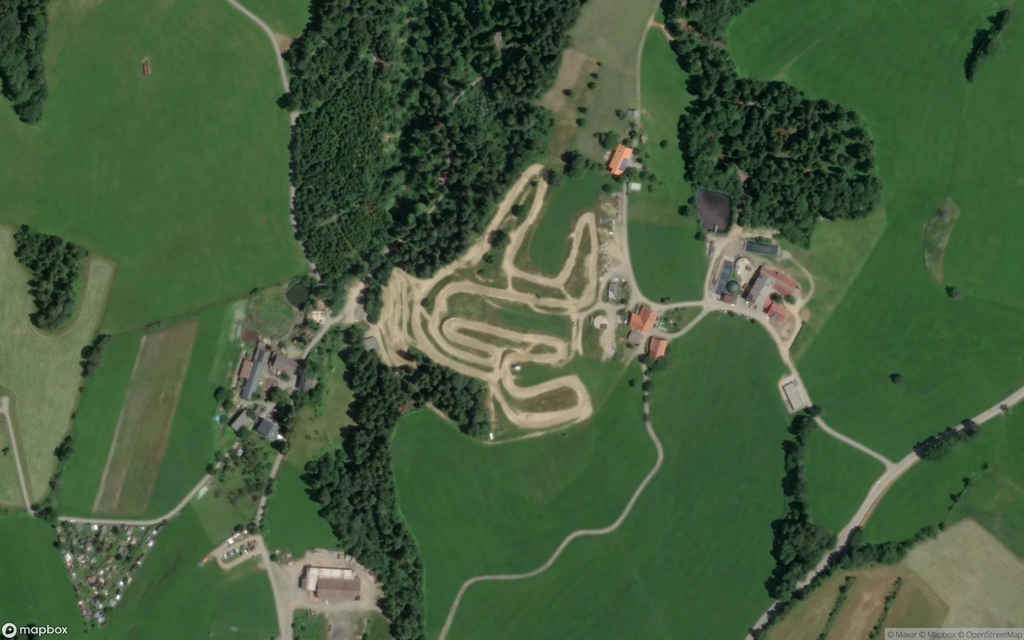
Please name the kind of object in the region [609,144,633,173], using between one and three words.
house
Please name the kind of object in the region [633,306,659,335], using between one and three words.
house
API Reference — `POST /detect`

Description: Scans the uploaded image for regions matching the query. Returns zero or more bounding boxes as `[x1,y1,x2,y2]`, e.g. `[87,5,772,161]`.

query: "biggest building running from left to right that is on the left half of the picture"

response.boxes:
[317,579,360,600]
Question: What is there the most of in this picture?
grass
